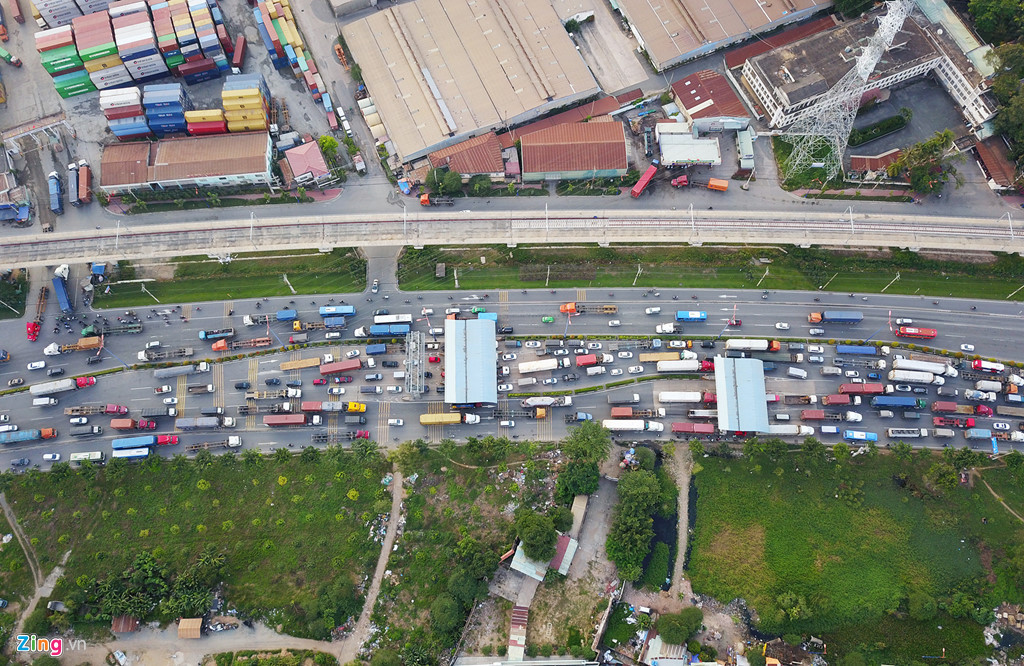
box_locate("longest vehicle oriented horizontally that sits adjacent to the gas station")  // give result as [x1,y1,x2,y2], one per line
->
[670,176,728,193]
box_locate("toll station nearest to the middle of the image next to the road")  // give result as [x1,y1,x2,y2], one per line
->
[424,318,520,409]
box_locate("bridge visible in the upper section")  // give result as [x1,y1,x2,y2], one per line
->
[0,210,1024,274]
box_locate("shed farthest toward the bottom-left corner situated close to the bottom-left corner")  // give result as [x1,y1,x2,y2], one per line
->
[112,616,143,632]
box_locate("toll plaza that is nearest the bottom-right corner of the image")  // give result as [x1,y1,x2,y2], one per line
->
[687,358,785,439]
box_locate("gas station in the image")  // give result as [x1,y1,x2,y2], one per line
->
[660,134,721,171]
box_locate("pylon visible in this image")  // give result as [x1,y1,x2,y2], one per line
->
[781,0,924,184]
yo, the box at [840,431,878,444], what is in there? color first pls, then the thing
blue vehicle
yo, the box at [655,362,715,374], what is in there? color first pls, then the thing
white vehicle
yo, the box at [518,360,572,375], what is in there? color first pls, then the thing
white vehicle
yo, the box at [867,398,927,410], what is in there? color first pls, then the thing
blue vehicle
